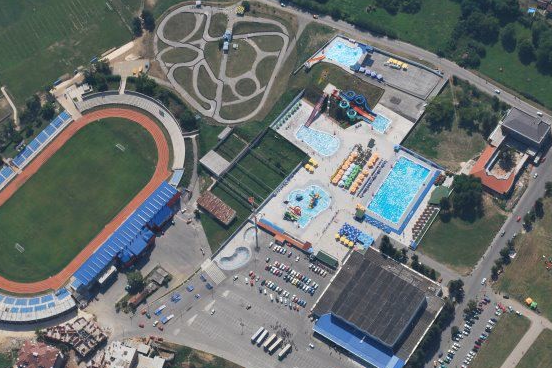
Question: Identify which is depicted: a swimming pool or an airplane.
swimming pool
